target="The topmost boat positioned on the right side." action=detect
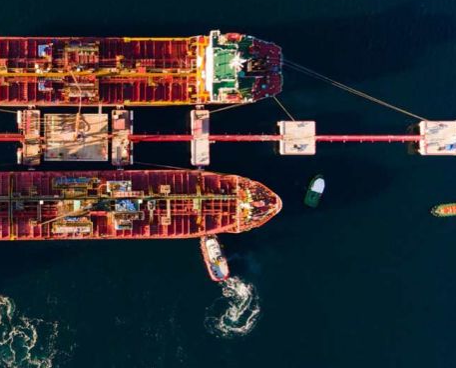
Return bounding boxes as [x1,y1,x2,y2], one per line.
[306,176,327,208]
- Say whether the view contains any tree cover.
No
